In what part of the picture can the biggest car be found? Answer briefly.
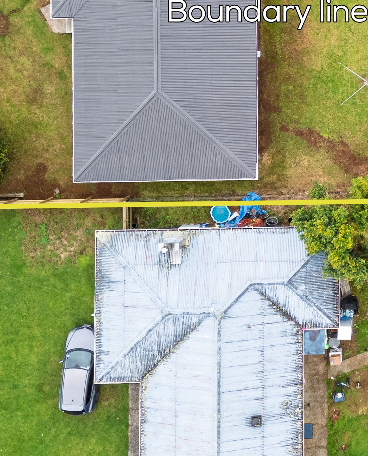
bottom left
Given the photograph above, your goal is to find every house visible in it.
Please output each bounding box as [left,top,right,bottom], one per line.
[48,0,264,184]
[89,222,342,456]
